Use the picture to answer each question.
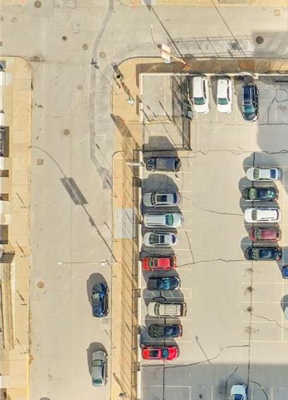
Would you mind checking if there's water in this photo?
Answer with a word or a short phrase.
No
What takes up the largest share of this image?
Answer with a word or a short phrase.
paved ground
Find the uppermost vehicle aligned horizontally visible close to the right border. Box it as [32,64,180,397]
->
[247,166,283,181]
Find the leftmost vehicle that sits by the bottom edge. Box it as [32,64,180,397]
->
[90,350,109,385]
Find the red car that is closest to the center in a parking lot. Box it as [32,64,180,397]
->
[142,254,177,270]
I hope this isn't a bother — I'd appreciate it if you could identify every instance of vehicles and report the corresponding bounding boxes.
[90,350,109,385]
[247,206,280,222]
[230,384,247,400]
[215,76,235,113]
[241,84,260,120]
[246,245,282,261]
[191,75,211,113]
[243,185,279,201]
[250,227,281,241]
[145,212,181,227]
[247,166,283,181]
[145,155,181,172]
[148,323,182,338]
[146,275,182,290]
[90,282,110,317]
[142,254,177,270]
[143,346,178,361]
[145,231,178,247]
[150,301,185,317]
